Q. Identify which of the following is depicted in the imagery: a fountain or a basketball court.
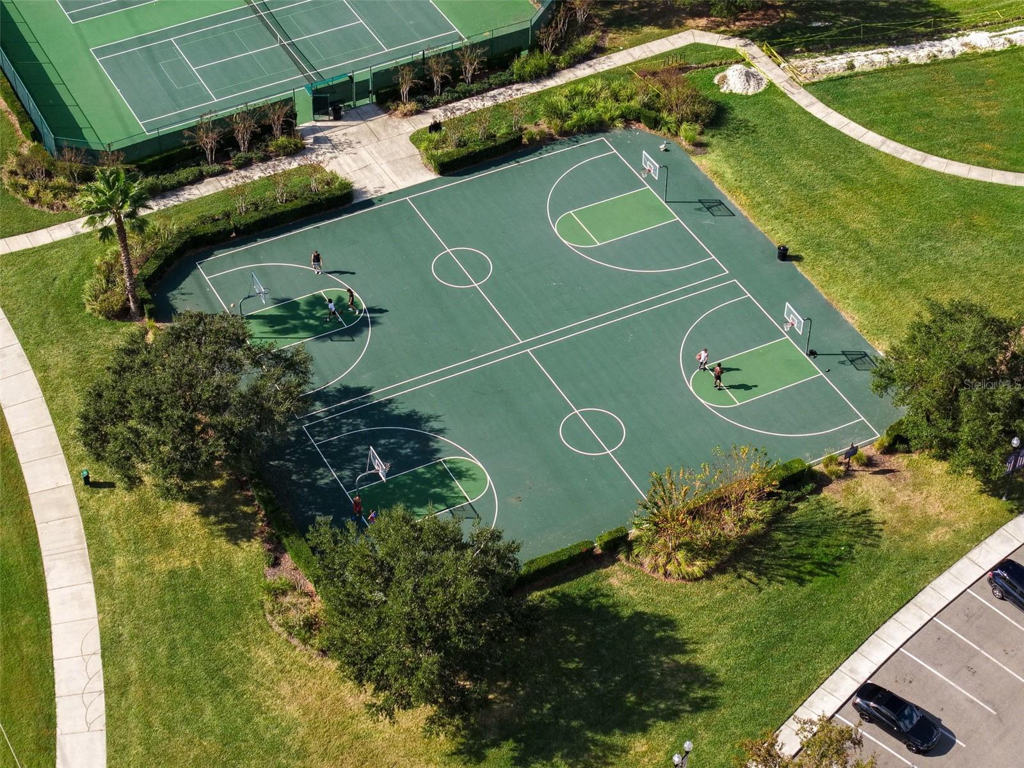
basketball court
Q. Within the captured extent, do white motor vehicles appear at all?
No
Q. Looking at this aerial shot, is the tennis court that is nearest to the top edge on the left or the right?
left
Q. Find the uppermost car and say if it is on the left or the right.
right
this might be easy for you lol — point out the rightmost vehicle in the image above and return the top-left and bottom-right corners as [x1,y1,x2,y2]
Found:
[989,560,1024,611]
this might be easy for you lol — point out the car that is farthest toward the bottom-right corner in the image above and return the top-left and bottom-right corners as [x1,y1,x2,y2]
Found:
[854,683,952,757]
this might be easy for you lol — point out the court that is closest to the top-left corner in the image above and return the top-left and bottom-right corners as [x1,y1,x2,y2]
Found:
[57,0,160,23]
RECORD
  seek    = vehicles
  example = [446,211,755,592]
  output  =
[989,560,1024,611]
[854,683,952,757]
